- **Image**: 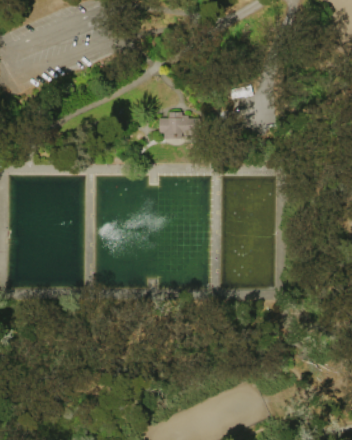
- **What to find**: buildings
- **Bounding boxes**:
[231,86,254,99]
[159,111,195,139]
